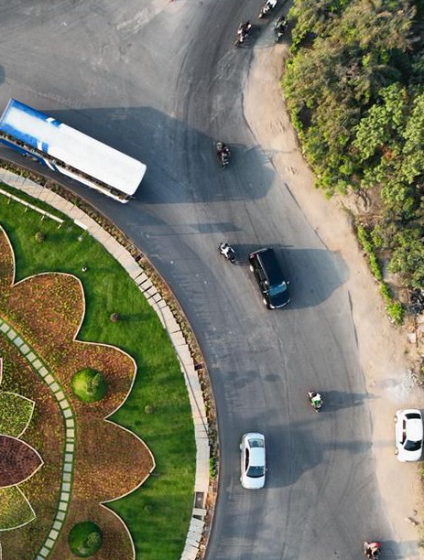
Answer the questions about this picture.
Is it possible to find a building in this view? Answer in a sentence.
No, there appears to be no building in this shot.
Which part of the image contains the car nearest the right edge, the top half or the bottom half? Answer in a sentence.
The car nearest the right edge sits in the bottom half of the picture.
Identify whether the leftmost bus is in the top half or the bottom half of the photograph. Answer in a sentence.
Seen from above, the leftmost bus lies in the top half of the view.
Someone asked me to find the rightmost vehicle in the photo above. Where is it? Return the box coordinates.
[391,408,424,461]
